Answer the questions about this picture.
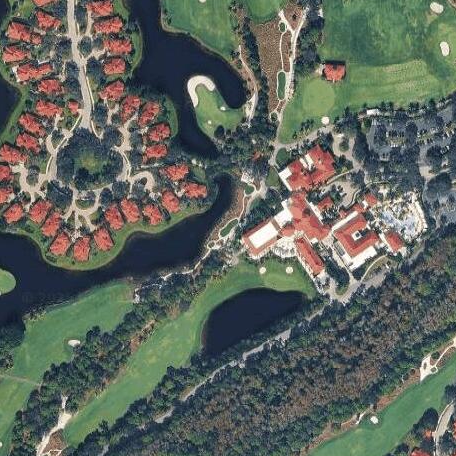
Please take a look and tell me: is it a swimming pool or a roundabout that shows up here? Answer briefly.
swimming pool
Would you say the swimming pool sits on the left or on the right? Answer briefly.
right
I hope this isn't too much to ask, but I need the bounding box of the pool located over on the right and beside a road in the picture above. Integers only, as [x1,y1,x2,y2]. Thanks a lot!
[370,190,428,242]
